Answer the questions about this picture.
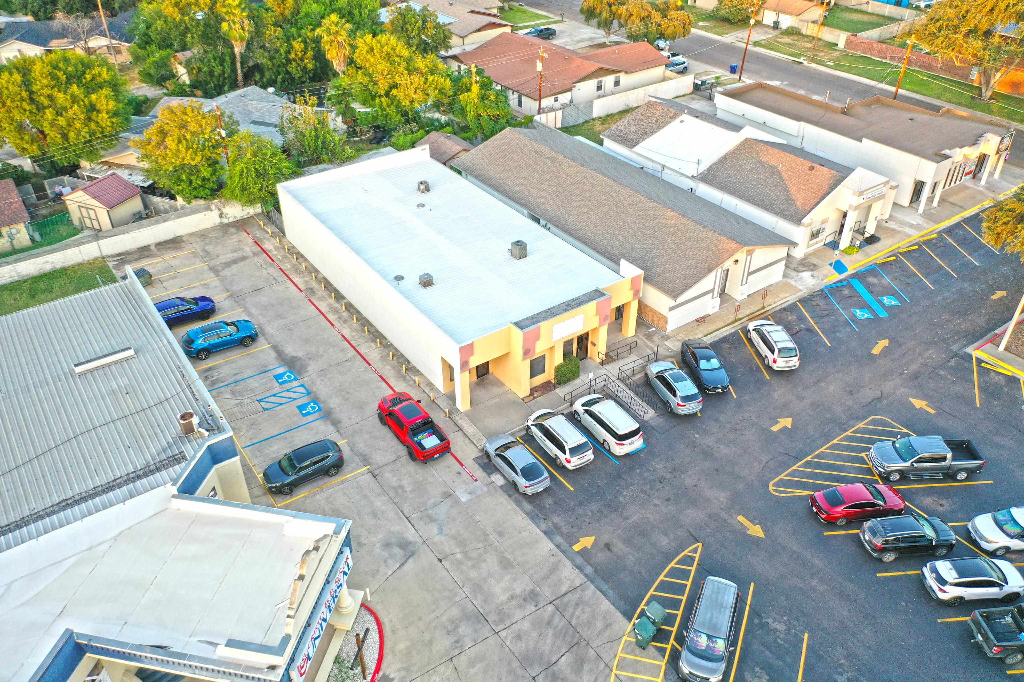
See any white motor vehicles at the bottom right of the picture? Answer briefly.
Yes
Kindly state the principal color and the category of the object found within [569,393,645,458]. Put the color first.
white car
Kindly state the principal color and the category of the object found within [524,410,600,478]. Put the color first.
white car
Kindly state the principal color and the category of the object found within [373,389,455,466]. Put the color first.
red truck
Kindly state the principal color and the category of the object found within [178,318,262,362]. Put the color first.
blue car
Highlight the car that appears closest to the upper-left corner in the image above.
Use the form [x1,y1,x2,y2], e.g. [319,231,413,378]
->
[155,287,234,326]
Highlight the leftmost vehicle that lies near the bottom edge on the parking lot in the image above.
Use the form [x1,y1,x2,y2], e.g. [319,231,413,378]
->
[671,575,738,682]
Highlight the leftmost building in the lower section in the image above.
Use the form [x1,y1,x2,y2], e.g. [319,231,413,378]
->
[0,265,368,682]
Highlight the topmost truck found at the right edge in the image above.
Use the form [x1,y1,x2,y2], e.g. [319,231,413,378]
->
[864,435,993,483]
